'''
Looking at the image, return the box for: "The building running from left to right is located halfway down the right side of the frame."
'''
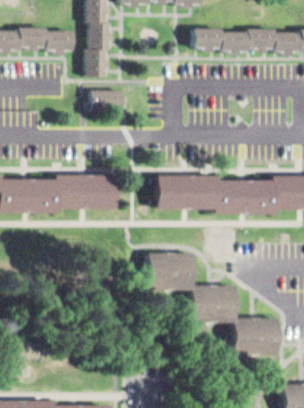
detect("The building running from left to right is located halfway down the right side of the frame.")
[152,174,304,214]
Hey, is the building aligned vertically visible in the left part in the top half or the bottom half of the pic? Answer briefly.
top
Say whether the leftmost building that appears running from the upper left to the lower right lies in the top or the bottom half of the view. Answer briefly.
bottom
